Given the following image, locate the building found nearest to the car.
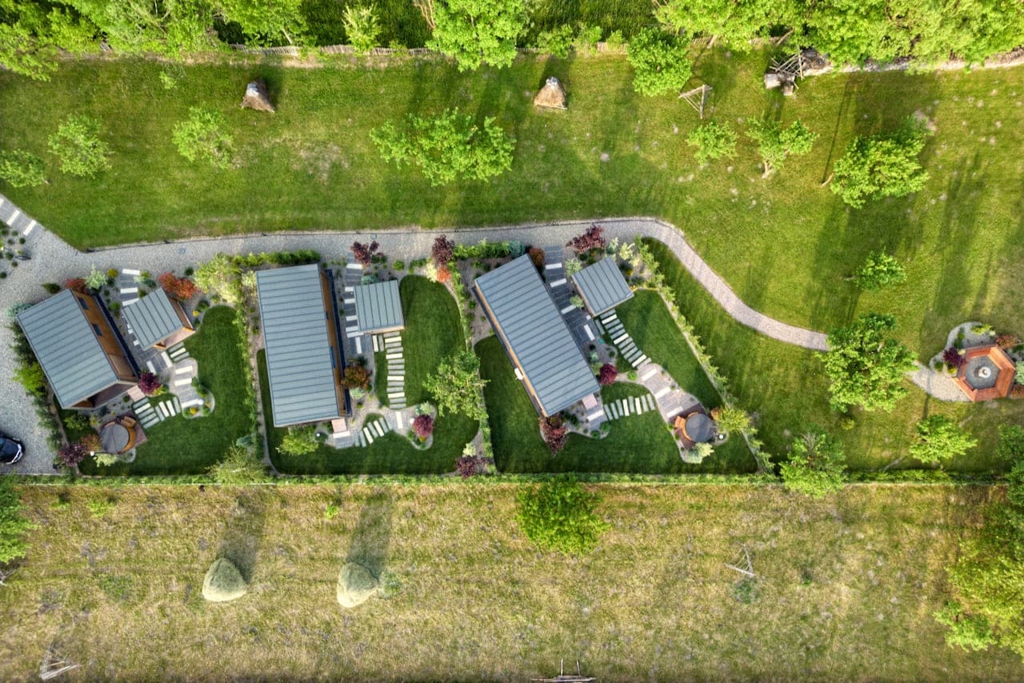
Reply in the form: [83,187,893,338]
[16,286,146,409]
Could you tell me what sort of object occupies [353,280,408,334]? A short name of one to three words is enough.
shed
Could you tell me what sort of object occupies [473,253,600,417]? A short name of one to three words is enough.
building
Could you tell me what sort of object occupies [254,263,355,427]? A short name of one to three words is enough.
building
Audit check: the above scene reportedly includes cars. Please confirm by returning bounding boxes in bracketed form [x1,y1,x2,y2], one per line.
[0,433,25,466]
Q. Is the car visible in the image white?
No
